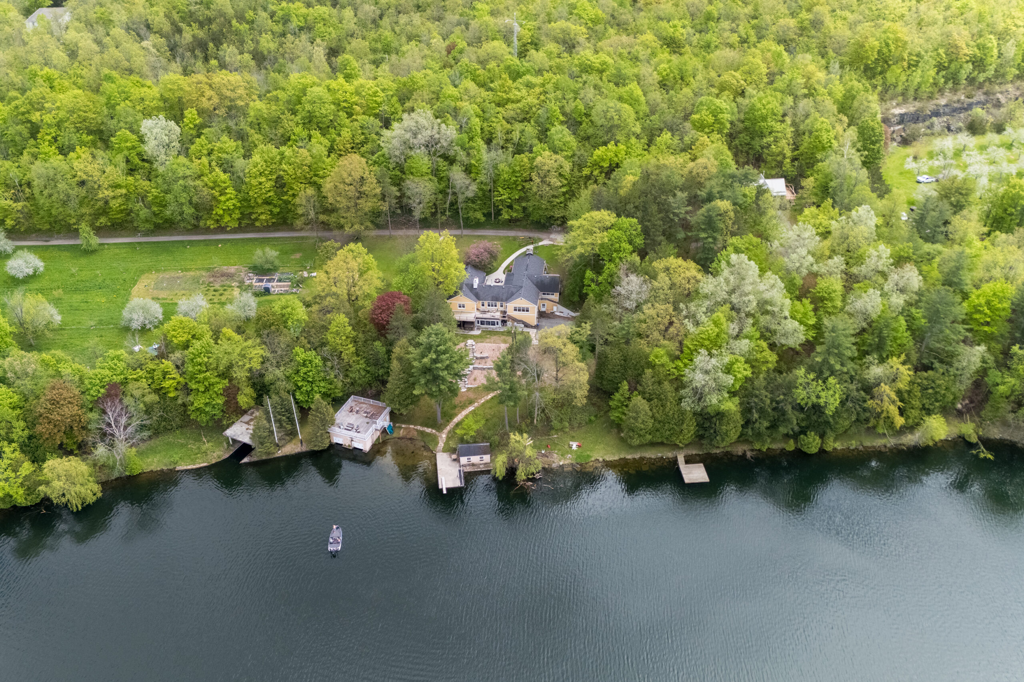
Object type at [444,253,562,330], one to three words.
house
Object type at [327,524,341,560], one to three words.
boat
